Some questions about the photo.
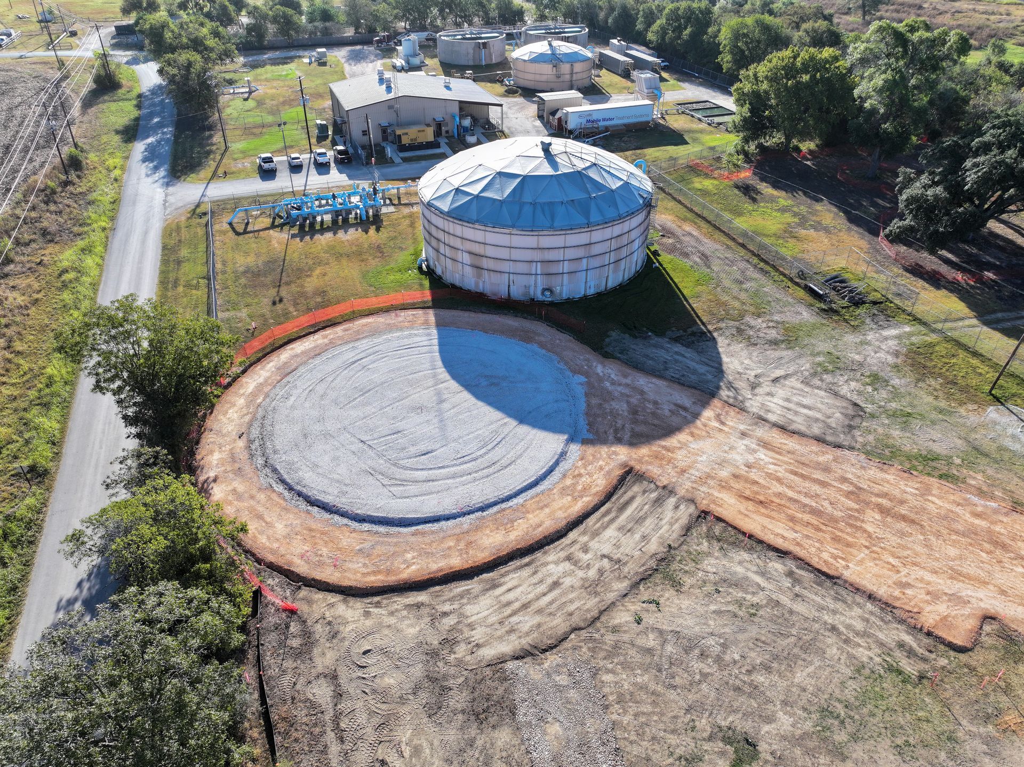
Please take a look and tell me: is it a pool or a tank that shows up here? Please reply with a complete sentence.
Looking from above, you can make out a tank.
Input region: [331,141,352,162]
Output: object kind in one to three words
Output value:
truck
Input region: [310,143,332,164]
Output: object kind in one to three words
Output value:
truck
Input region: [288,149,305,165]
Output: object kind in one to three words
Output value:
car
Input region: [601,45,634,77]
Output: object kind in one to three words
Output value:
trailer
